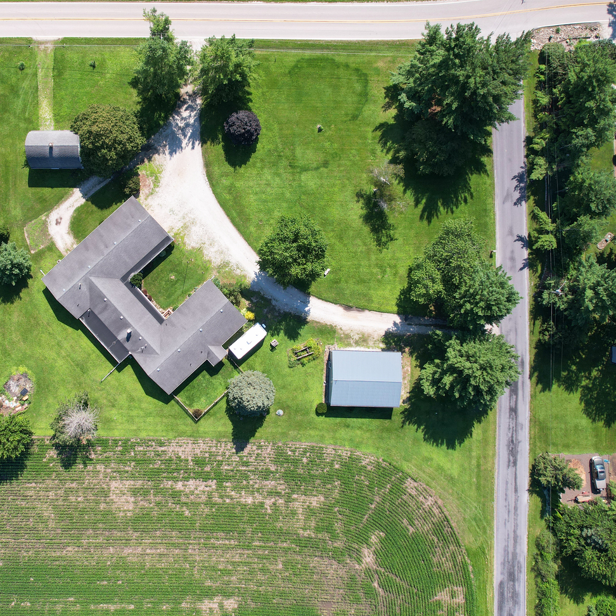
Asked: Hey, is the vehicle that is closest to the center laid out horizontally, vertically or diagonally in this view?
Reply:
diagonally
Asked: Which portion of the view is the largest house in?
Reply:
left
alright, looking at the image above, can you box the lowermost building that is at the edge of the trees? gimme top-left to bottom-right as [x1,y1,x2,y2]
[330,350,402,407]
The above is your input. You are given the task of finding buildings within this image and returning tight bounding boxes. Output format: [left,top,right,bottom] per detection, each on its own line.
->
[40,195,249,395]
[330,350,402,407]
[24,130,82,170]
